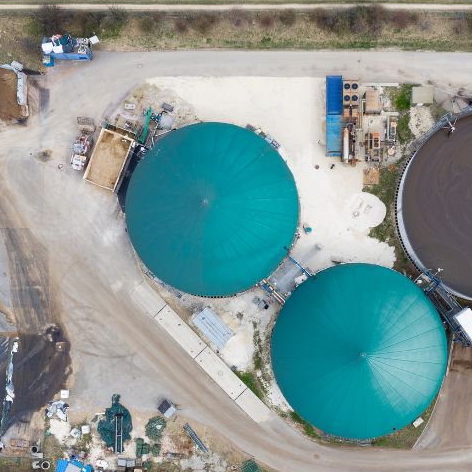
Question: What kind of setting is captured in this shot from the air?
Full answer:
It's an industrial area.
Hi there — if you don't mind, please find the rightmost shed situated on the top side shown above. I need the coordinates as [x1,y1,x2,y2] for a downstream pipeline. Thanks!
[409,85,434,113]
